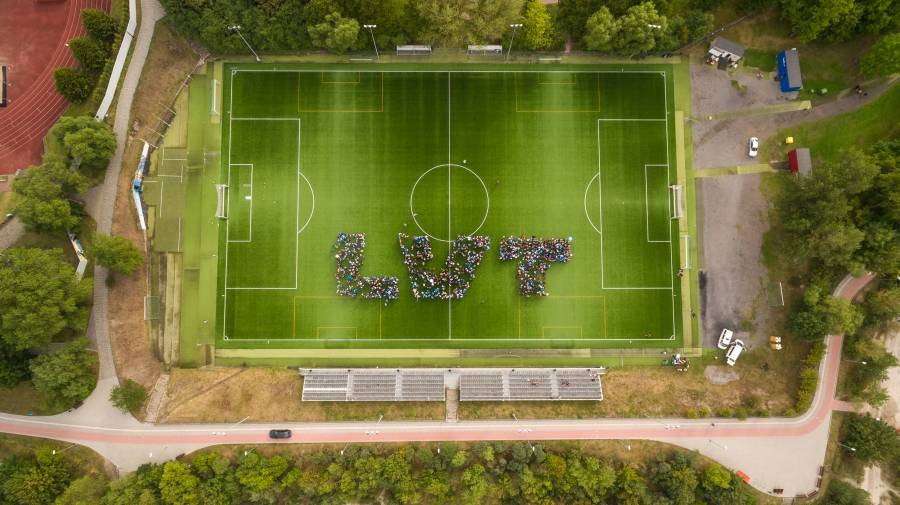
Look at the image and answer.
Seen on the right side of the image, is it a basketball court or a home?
home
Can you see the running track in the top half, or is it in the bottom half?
top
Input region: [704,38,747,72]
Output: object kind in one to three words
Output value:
house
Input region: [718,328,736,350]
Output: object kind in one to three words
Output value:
vehicle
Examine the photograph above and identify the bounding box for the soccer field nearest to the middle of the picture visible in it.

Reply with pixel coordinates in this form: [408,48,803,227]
[213,63,684,349]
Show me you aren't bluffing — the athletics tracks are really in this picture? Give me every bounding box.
[0,0,108,176]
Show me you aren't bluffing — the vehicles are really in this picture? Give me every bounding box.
[750,137,759,157]
[718,328,736,350]
[269,429,291,440]
[727,341,748,367]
